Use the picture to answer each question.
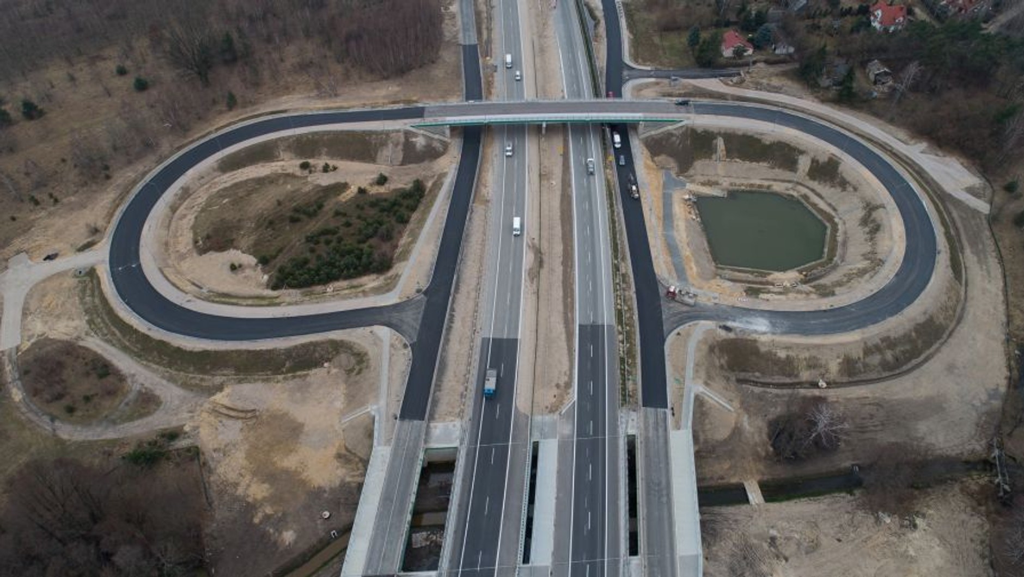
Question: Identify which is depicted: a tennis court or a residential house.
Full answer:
It is a residential house that can be seen here.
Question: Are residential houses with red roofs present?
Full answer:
Yes, a residential house with a red roof can be made out from above.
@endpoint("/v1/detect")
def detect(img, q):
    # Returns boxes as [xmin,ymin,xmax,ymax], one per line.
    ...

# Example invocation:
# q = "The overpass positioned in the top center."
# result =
[409,96,693,141]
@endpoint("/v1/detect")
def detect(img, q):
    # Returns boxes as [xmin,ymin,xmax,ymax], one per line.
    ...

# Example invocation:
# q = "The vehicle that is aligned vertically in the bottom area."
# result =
[482,365,496,402]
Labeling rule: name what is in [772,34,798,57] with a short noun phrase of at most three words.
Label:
house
